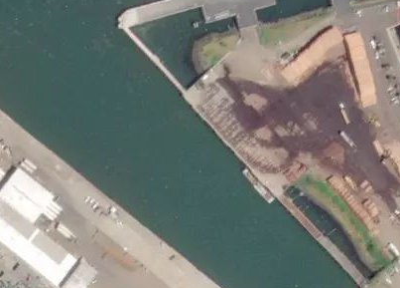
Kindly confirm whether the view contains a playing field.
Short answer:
No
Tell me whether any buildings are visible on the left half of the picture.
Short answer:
Yes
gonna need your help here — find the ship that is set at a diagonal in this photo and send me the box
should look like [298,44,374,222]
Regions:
[243,166,273,203]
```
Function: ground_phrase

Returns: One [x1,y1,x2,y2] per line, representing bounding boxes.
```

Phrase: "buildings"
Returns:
[0,218,78,286]
[0,168,55,223]
[62,259,98,288]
